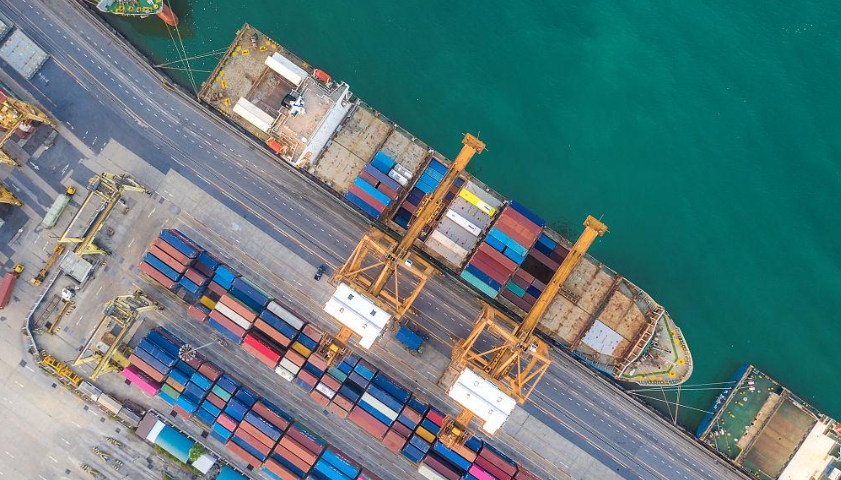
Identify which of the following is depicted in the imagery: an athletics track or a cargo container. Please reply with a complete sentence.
Of the two, only a cargo container appears.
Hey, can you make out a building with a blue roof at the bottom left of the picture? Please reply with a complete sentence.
Yes, I can see a building with a blue roof at the bottom left of the picture.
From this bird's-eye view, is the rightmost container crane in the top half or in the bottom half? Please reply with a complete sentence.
The rightmost container crane is in the bottom half of the image.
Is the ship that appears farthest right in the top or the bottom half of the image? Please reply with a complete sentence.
It is in the bottom half that the ship that appears farthest right appears.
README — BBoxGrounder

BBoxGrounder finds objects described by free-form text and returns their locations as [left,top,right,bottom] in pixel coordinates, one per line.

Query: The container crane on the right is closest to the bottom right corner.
[439,219,609,455]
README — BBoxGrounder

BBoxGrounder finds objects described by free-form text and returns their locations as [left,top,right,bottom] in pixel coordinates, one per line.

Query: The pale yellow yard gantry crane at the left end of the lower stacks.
[69,291,168,385]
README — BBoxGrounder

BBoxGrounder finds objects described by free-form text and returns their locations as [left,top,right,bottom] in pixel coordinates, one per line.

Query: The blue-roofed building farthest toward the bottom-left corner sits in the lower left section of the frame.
[157,422,199,461]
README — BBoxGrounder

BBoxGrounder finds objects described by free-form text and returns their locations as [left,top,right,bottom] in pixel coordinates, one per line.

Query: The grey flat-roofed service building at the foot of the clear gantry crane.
[59,252,99,283]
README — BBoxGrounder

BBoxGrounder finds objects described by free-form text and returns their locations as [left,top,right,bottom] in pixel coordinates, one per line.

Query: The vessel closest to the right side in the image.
[700,367,841,480]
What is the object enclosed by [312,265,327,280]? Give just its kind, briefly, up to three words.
vehicle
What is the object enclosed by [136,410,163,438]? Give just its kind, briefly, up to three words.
building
